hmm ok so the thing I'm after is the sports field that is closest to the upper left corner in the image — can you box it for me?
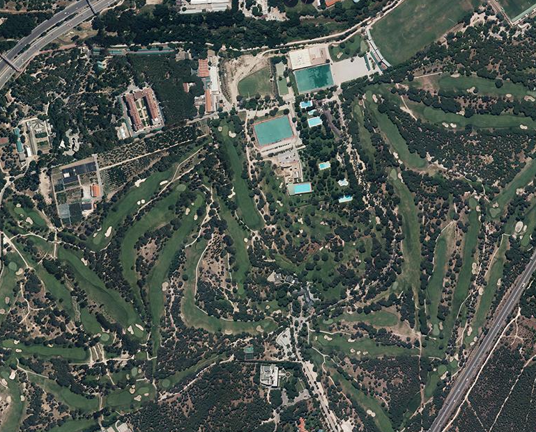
[239,66,273,98]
